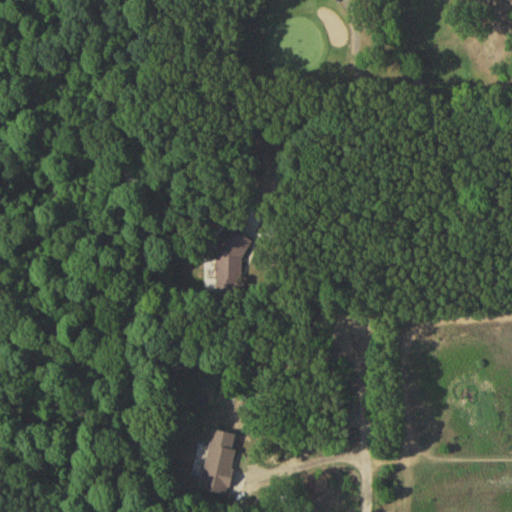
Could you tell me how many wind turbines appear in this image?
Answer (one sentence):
The picture shows no wind turbines.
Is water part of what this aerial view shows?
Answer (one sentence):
No, there's no water in this view.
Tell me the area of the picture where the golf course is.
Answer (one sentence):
The golf course appears toward the top of the photo.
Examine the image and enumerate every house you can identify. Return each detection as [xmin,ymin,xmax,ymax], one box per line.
[204,232,254,288]
[196,430,235,492]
